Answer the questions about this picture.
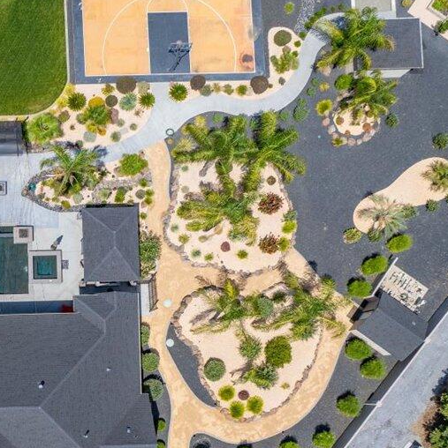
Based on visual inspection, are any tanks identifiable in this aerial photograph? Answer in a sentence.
No, no tank is visible in the view.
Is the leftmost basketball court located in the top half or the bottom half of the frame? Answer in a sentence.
The leftmost basketball court is in the top half of the image.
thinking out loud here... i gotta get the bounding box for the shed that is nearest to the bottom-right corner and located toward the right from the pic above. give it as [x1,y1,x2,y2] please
[342,292,428,363]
